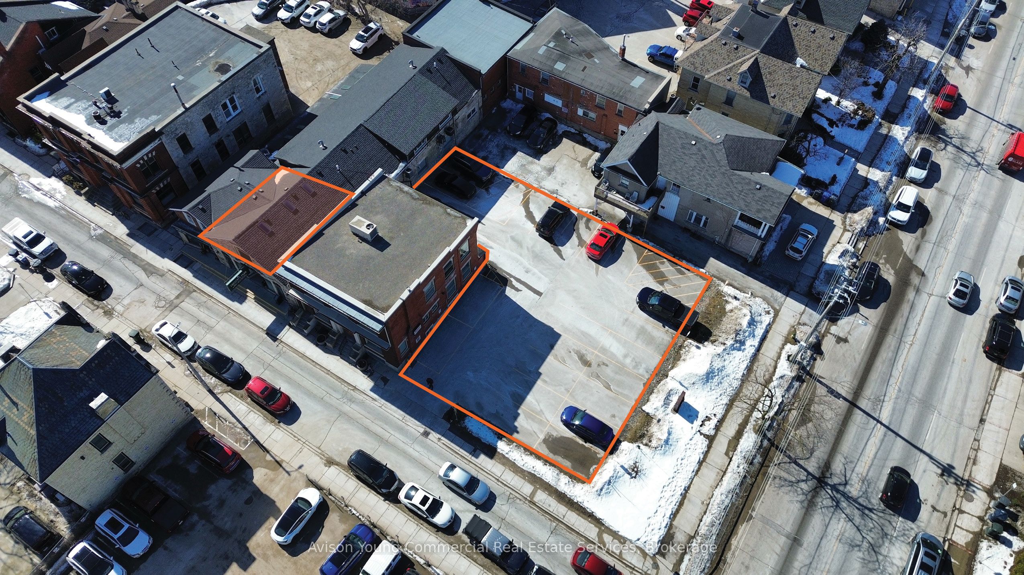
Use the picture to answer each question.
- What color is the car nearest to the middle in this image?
black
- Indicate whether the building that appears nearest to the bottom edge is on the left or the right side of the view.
left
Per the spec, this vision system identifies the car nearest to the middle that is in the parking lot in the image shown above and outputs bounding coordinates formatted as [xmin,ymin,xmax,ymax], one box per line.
[535,200,571,241]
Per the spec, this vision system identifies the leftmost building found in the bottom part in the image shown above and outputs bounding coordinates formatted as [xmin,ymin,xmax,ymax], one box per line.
[0,299,190,522]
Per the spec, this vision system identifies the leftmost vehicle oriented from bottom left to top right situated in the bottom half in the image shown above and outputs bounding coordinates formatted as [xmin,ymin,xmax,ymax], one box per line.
[265,489,326,547]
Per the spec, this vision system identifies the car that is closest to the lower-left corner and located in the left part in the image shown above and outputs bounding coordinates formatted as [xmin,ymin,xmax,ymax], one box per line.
[0,508,66,559]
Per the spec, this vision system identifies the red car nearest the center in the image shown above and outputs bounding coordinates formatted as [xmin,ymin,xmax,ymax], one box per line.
[587,223,620,260]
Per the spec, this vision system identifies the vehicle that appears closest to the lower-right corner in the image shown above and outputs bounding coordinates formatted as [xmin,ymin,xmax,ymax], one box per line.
[899,524,947,575]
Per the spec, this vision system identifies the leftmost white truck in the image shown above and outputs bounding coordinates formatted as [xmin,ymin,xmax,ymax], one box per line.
[0,218,61,256]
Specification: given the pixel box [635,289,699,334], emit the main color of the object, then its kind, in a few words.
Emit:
black truck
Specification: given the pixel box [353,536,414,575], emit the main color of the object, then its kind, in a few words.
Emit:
white car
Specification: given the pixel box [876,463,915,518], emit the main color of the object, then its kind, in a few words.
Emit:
black car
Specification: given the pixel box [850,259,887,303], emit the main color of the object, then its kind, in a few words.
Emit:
black car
